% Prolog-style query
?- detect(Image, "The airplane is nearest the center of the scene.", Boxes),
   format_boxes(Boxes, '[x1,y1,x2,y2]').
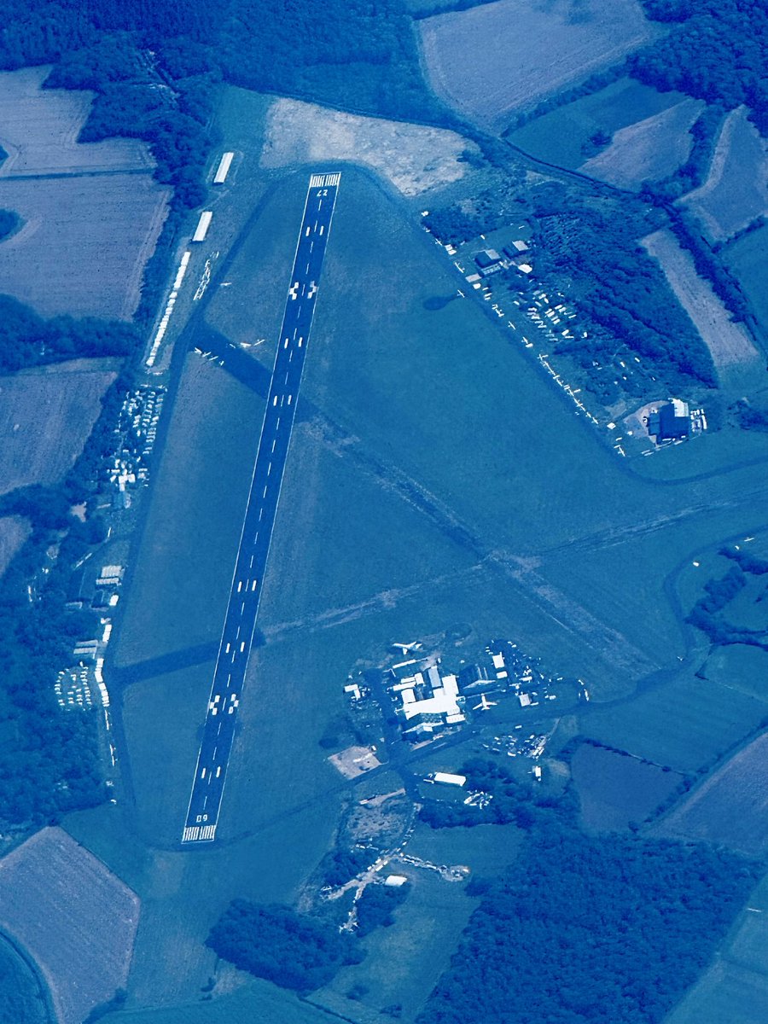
[393,638,423,654]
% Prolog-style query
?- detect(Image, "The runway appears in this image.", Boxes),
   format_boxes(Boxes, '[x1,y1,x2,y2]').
[181,170,342,844]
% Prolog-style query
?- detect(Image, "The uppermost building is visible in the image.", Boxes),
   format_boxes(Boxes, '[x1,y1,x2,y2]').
[214,153,233,185]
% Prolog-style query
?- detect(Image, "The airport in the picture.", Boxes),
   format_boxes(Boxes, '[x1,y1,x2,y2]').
[58,86,768,898]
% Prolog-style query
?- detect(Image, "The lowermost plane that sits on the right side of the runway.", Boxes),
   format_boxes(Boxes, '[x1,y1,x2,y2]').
[471,693,497,709]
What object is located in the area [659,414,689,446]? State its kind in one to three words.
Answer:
hangar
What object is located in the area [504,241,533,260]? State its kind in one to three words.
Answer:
building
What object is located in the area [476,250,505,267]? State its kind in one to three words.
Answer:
building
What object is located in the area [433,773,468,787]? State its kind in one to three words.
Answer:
hangar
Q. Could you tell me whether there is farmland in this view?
Yes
